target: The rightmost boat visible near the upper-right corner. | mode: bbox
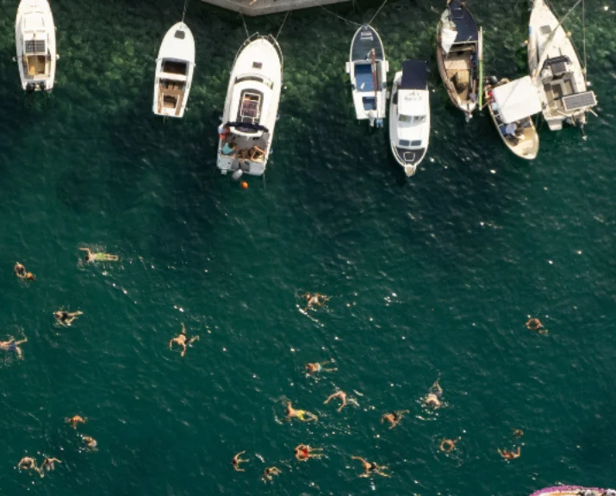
[527,0,598,139]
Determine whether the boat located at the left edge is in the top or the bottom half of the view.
top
